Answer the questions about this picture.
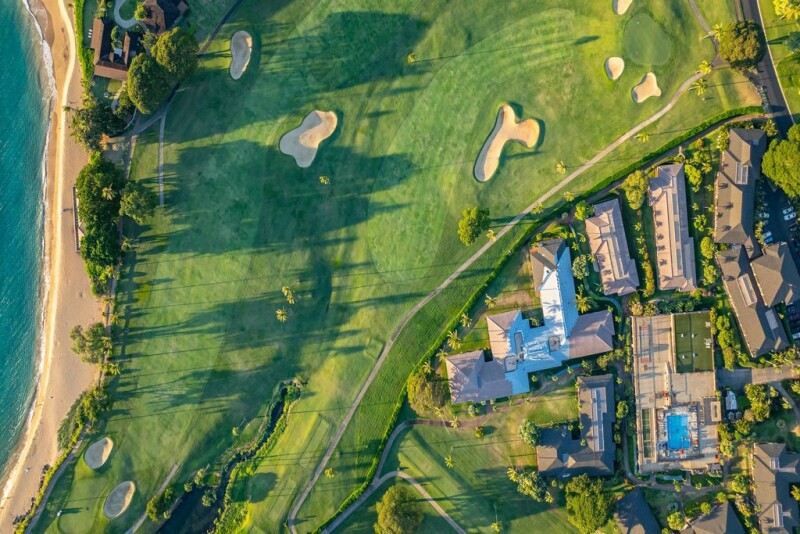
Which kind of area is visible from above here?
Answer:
golf course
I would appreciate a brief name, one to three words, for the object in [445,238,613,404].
building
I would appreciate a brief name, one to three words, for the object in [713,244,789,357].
building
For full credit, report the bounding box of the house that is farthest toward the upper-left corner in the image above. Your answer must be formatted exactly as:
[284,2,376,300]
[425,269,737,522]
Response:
[90,17,141,82]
